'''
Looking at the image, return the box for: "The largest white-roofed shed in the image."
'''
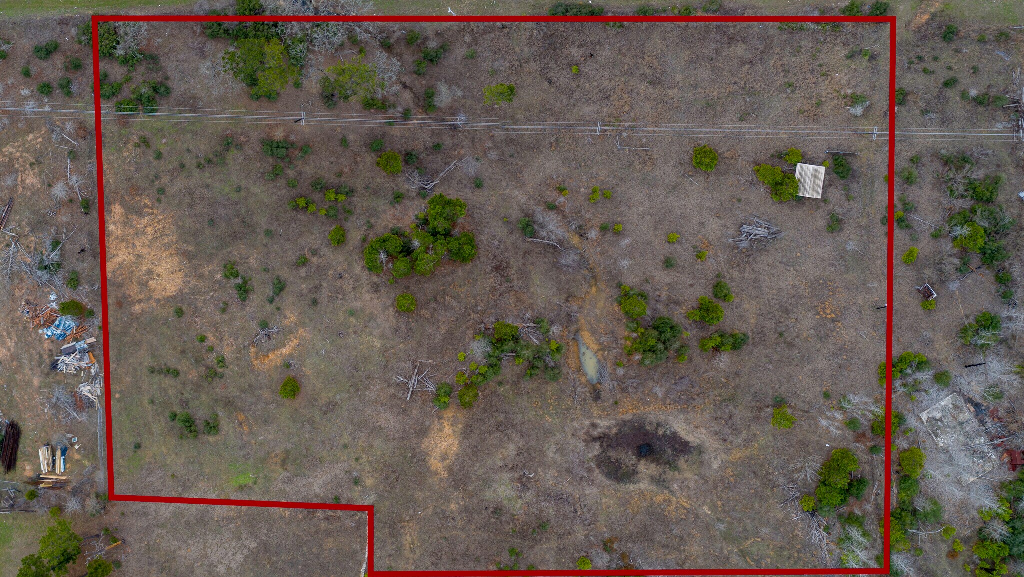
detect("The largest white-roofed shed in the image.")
[792,163,827,199]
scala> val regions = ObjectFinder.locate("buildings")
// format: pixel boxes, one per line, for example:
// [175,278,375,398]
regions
[792,163,827,199]
[919,284,939,301]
